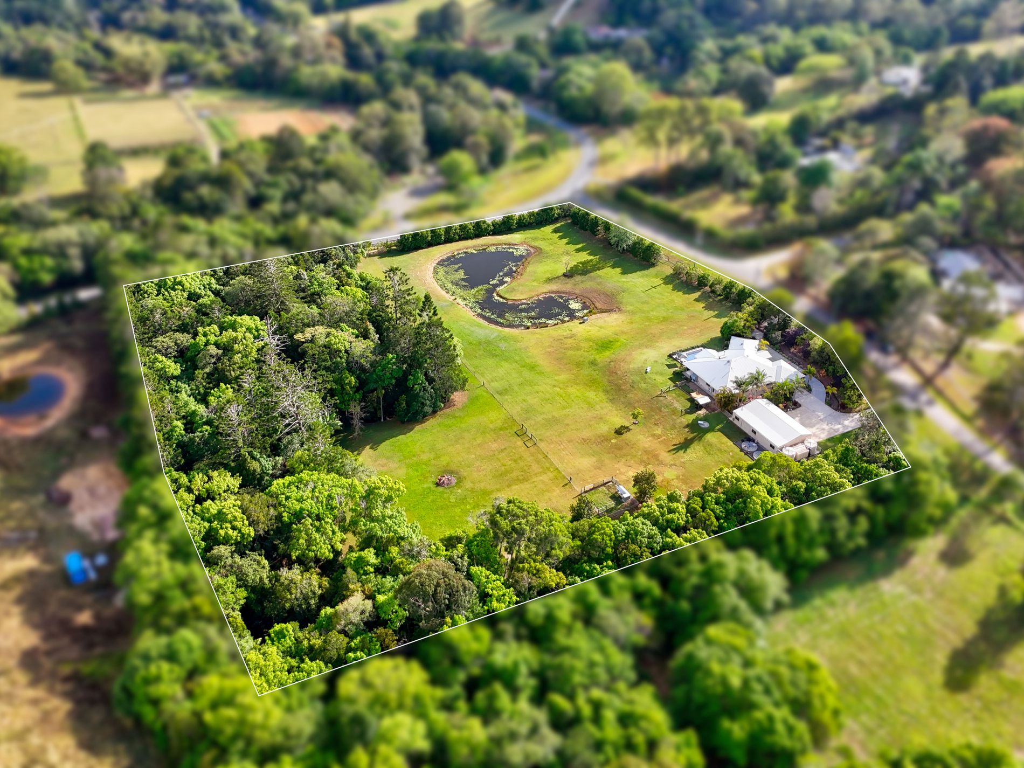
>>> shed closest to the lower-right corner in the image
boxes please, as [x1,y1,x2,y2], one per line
[730,400,812,457]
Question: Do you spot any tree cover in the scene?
Yes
